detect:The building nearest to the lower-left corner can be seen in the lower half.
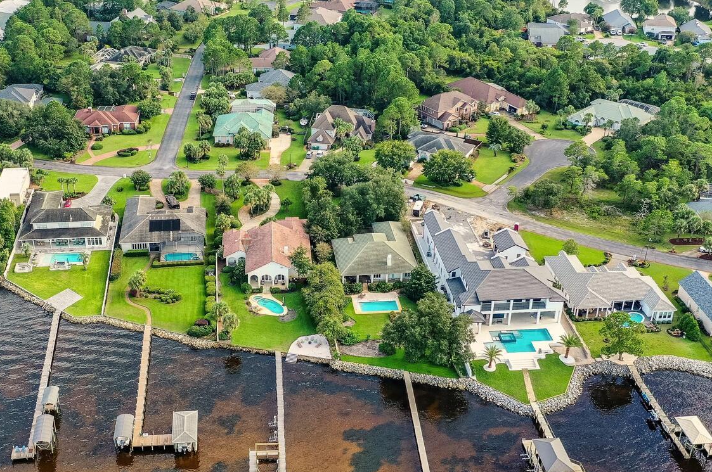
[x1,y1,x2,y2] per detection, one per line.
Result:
[172,411,200,468]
